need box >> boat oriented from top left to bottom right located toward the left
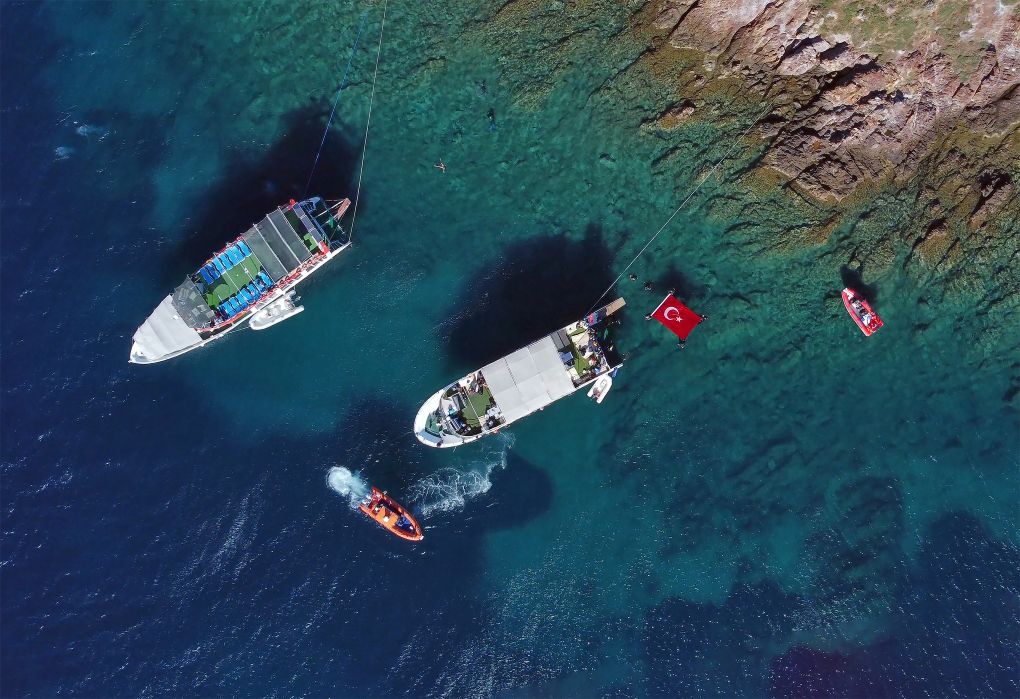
[360,488,422,542]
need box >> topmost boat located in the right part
[843,288,883,336]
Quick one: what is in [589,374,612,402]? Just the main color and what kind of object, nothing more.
white boat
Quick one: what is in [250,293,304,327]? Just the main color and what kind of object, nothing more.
white boat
